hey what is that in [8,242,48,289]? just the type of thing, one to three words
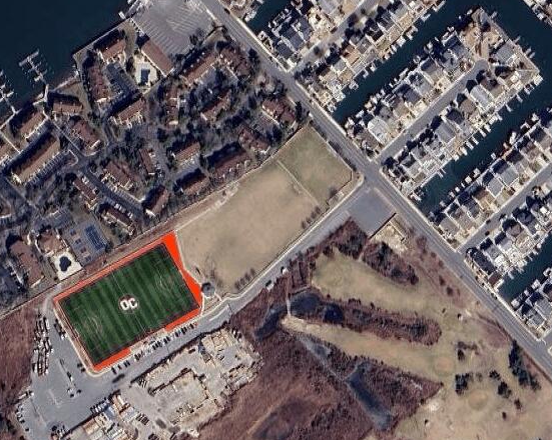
building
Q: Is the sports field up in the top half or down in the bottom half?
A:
bottom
